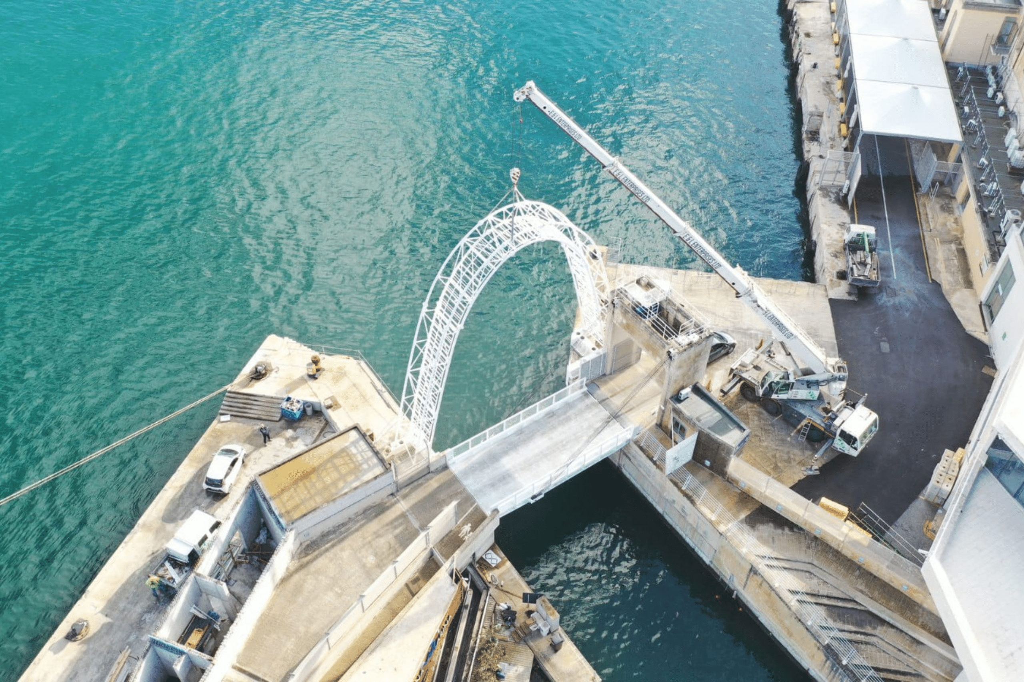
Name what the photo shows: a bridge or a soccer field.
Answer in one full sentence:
Looking from above, you can make out a bridge.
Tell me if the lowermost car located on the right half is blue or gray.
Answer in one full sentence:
The color of the lowermost car located on the right half is gray.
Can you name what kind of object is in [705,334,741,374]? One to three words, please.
car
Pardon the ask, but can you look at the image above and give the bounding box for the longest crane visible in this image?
[494,83,884,478]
